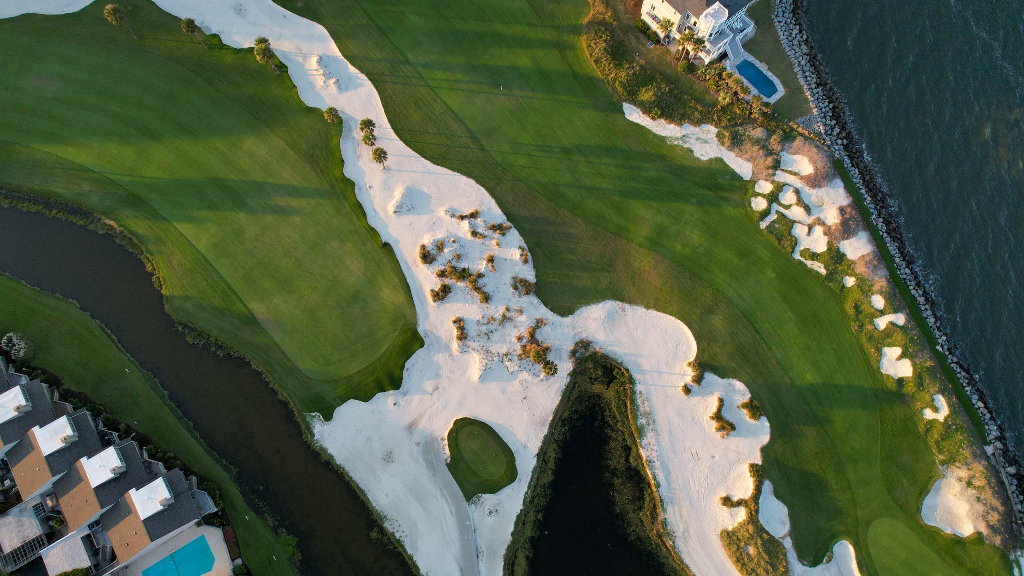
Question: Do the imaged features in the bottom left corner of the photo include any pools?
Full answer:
Yes, you'll find a pool in the bottom left corner of the photo.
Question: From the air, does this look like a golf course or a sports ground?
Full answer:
This image shows a golf course.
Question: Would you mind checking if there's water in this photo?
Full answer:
Yes, there's water in this view.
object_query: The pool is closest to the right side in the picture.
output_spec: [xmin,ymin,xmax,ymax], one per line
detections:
[722,50,784,102]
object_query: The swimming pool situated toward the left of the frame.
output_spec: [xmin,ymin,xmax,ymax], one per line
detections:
[119,527,237,576]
